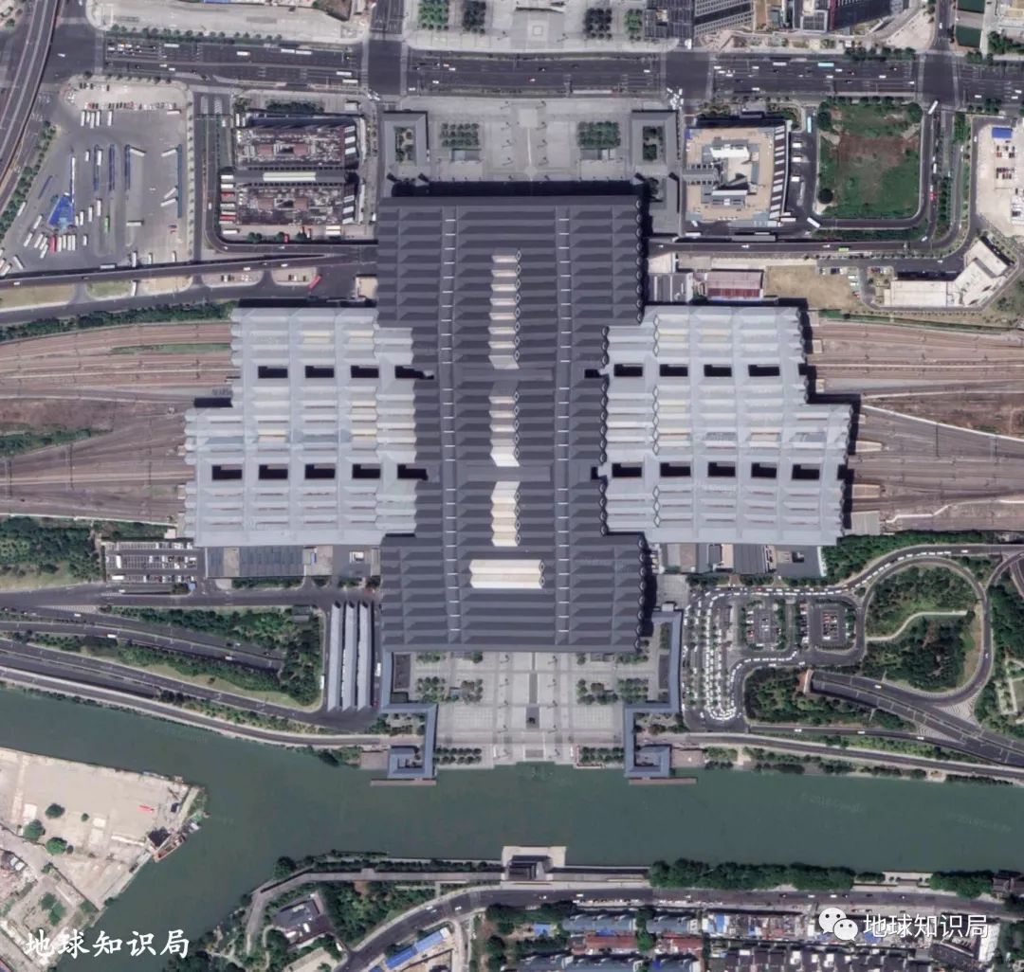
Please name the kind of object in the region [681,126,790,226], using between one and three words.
building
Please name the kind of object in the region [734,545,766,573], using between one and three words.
shed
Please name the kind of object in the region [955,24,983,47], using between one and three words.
sports court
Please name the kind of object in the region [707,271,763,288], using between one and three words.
shed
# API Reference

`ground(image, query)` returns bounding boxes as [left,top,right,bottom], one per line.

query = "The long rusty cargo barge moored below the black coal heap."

[154,831,187,863]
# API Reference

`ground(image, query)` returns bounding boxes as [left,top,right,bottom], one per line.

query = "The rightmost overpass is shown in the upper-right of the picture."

[648,239,908,254]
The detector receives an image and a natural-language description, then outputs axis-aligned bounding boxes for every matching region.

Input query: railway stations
[177,196,882,652]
